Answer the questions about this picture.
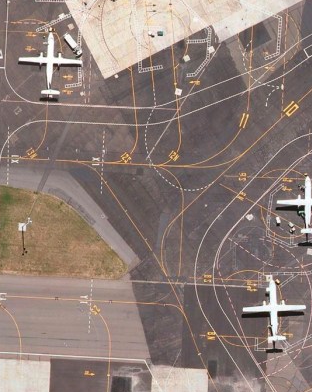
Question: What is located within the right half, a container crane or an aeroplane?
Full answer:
There is an aeroplane within the right half.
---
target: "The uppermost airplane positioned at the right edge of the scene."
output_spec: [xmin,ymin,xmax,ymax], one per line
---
[277,176,312,234]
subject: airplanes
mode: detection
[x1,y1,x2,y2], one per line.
[19,32,82,95]
[242,281,306,343]
[277,176,312,234]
